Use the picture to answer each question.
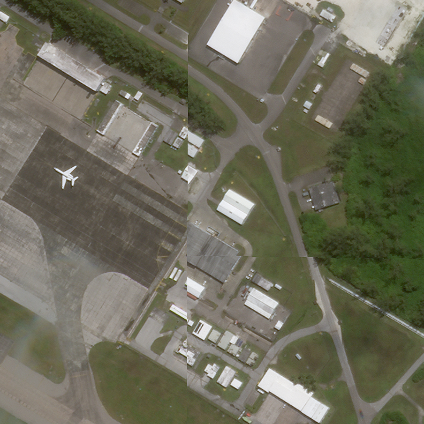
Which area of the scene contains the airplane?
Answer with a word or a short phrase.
left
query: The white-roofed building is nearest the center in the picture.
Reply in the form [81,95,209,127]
[217,189,256,225]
